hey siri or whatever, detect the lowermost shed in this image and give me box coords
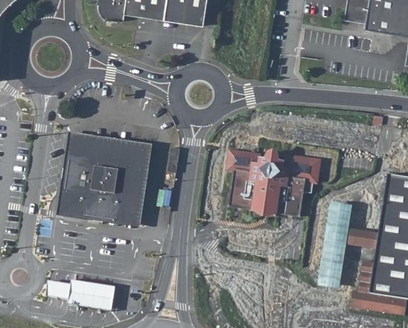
[351,291,408,316]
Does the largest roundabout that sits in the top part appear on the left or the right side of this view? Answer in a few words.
left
